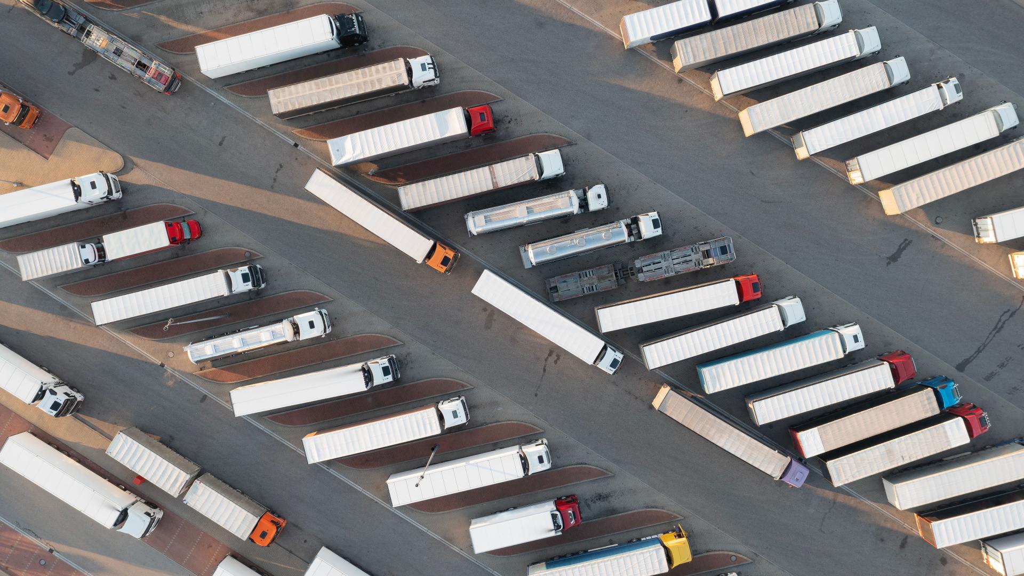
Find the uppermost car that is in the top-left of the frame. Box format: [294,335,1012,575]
[20,0,67,25]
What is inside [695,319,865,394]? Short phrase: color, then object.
white truck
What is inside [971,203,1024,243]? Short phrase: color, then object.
white truck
